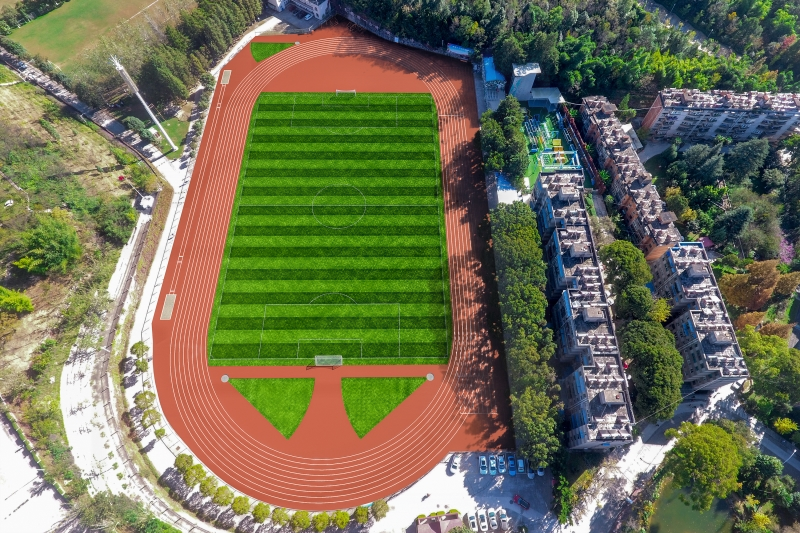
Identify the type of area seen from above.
sports ground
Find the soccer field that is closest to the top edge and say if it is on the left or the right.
left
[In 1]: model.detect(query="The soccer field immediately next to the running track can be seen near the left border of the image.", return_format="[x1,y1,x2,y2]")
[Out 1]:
[15,0,208,84]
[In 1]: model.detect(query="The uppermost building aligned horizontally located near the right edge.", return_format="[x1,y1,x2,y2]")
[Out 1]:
[637,90,800,148]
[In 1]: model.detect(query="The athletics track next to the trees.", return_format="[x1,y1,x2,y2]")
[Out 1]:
[152,14,516,510]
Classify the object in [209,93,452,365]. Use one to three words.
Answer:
soccer field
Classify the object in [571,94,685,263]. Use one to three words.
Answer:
building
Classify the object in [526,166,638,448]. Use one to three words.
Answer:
building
